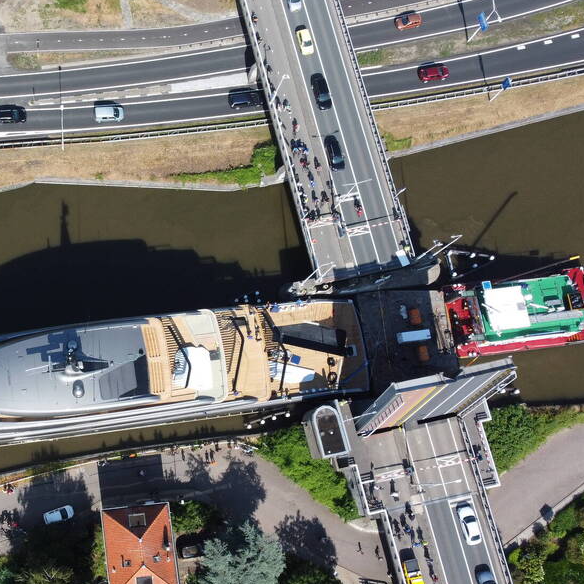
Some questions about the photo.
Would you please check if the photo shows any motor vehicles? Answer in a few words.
Yes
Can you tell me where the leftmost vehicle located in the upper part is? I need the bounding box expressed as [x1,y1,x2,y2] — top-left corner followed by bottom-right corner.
[0,104,26,122]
